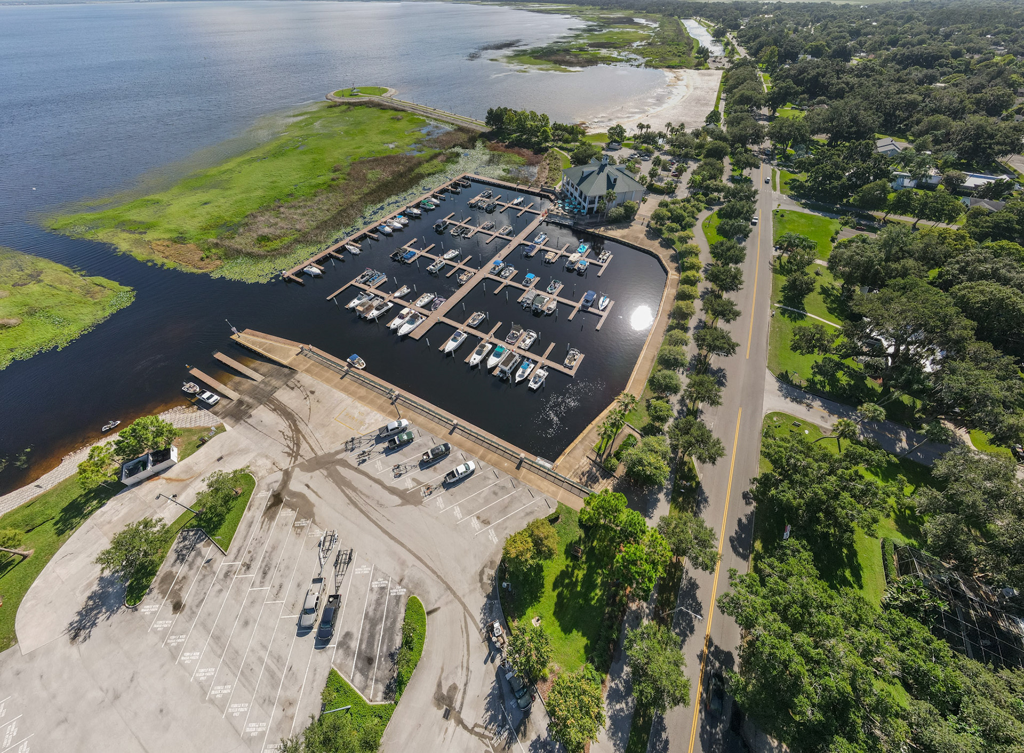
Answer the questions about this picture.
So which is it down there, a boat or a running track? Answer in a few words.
boat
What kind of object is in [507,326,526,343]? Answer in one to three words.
boat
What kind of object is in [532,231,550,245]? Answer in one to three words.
boat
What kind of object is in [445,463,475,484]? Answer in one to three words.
truck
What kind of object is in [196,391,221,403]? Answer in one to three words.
vehicle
